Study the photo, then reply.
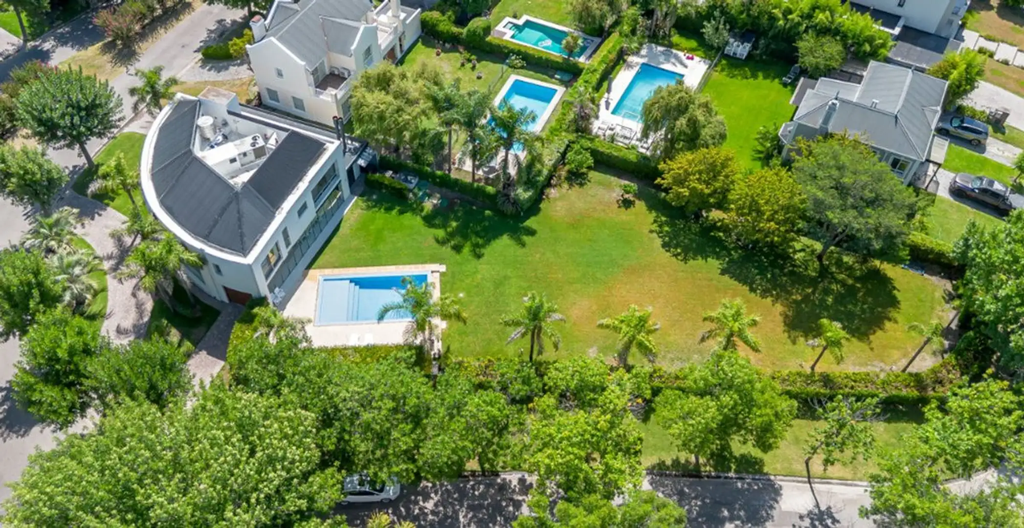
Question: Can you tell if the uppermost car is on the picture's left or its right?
right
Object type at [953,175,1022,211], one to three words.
truck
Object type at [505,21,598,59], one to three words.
swimming pool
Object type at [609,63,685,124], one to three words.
swimming pool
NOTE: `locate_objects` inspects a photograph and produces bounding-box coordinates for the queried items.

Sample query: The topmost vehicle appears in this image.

[936,115,993,147]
